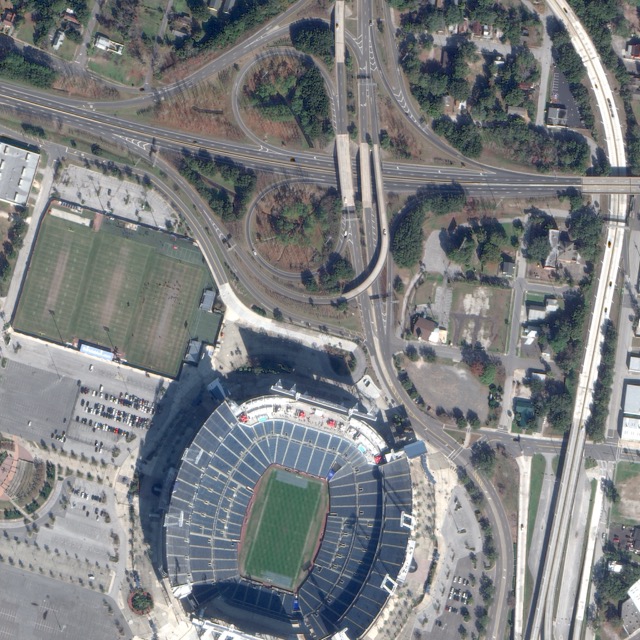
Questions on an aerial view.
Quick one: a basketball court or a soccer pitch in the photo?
soccer pitch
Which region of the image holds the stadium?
bottom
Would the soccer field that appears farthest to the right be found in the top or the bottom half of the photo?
bottom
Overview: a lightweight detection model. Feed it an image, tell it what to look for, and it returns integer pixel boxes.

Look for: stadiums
[163,378,428,640]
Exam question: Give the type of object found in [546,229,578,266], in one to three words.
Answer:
building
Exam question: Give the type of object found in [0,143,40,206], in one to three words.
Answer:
building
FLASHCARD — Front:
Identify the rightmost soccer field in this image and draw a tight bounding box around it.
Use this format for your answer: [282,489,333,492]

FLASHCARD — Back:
[239,464,329,593]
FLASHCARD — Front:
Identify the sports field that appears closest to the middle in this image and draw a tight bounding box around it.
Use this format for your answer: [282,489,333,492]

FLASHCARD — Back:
[126,257,202,370]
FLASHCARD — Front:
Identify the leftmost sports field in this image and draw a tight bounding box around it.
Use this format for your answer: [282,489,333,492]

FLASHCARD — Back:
[17,226,94,339]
